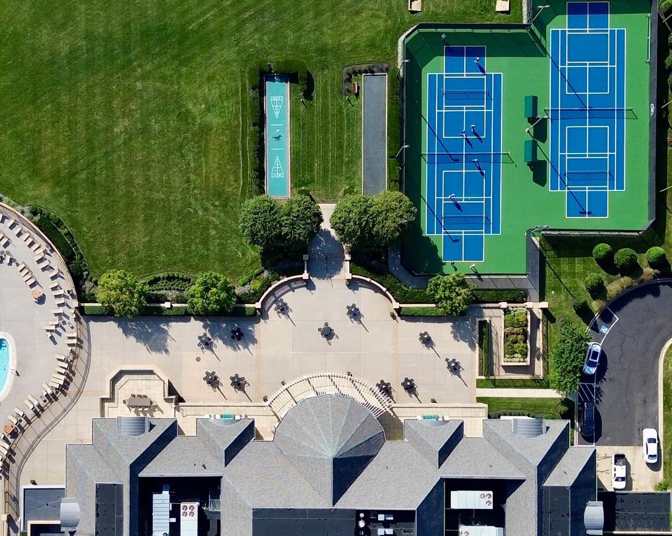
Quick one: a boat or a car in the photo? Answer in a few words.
car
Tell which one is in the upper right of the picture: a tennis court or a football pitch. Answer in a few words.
tennis court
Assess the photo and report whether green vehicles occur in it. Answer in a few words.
No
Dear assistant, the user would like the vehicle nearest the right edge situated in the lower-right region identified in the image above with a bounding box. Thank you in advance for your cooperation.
[642,429,659,464]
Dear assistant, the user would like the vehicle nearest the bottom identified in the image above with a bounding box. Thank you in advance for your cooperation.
[611,453,627,490]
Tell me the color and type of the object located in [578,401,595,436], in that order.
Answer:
black car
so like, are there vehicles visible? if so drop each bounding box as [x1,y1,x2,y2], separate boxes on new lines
[582,342,602,376]
[611,453,627,490]
[578,401,595,436]
[642,429,659,464]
